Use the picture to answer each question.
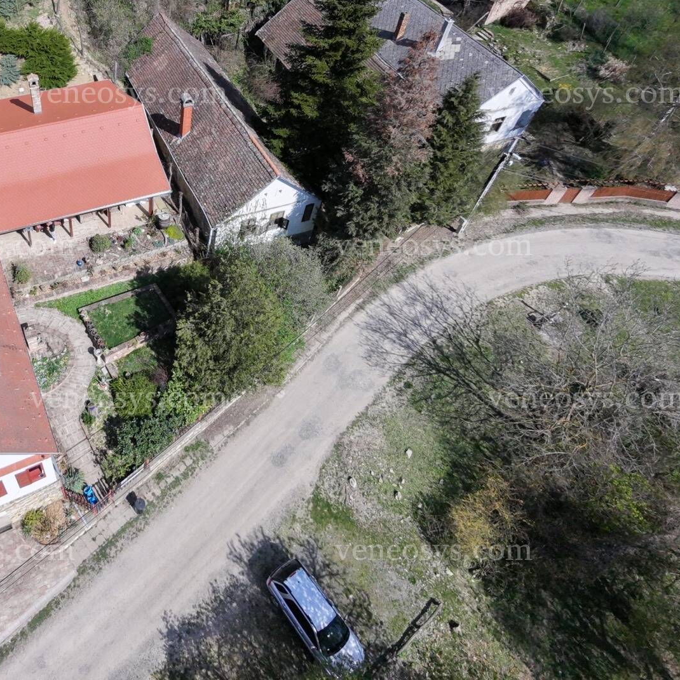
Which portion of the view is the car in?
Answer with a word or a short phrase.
bottom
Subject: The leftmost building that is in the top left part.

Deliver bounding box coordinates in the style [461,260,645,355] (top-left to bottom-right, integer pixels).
[0,70,171,247]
